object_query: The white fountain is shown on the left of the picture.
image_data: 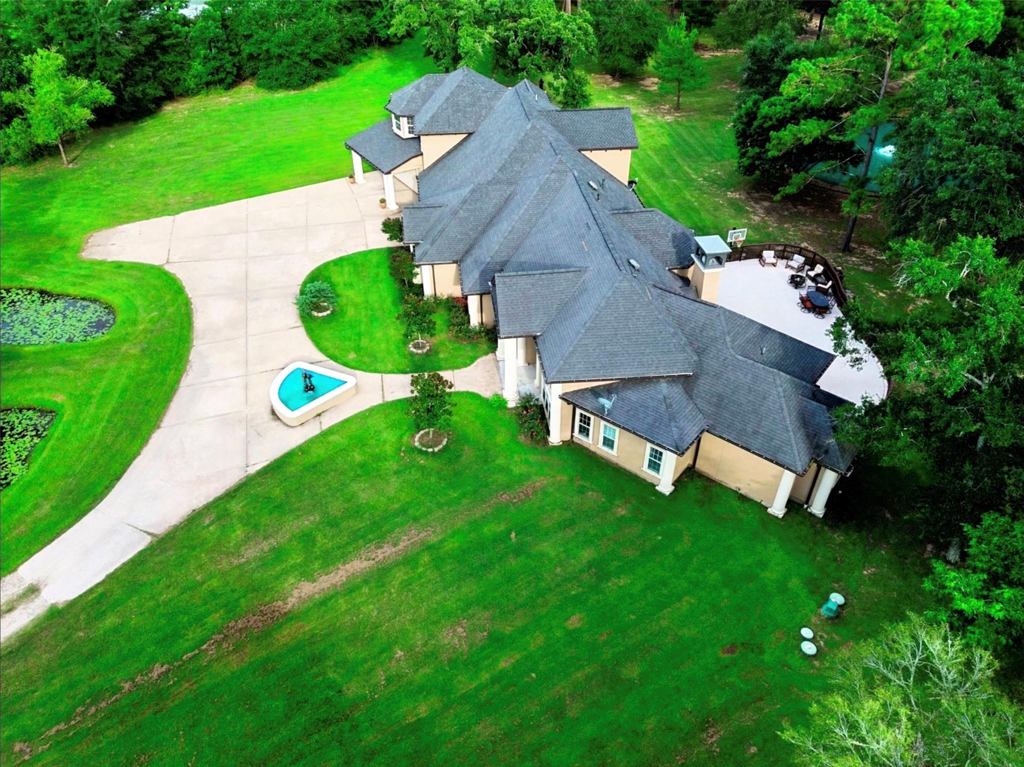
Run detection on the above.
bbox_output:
[269,362,358,424]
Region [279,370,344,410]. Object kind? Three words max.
swimming pool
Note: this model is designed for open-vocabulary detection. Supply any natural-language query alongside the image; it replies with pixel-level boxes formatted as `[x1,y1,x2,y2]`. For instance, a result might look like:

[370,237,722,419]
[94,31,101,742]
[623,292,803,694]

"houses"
[343,70,884,519]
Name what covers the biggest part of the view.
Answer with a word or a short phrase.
grass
